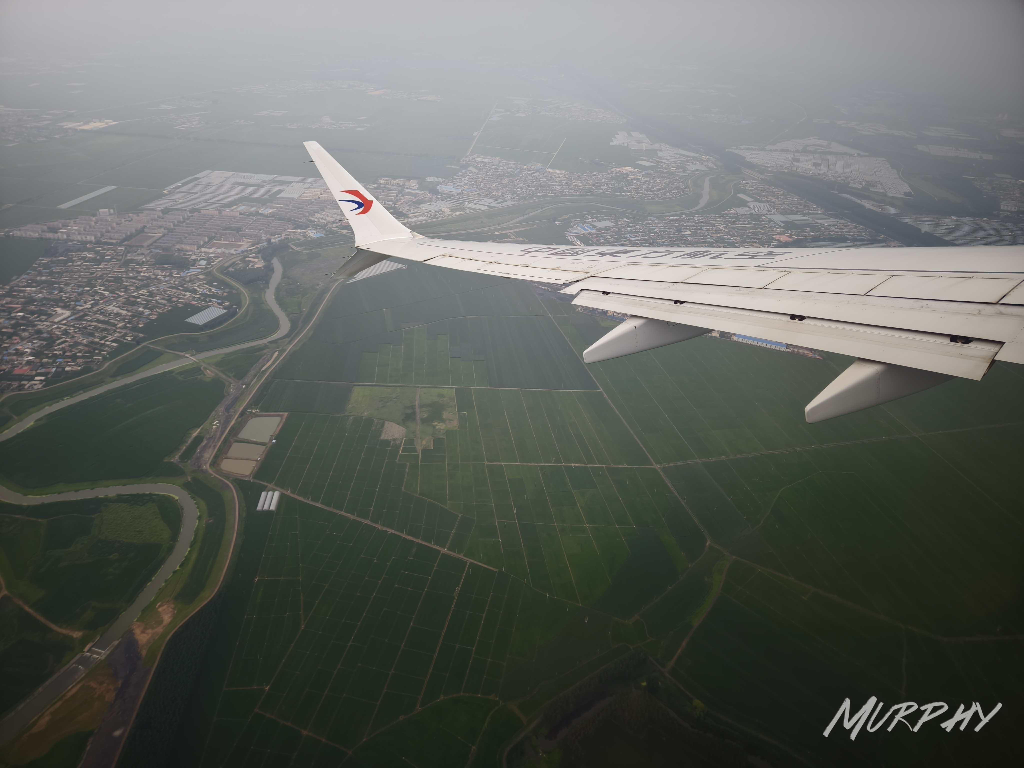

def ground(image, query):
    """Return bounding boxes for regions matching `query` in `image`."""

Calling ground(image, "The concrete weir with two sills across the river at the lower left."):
[17,635,122,717]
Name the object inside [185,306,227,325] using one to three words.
greenhouse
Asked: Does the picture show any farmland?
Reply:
Yes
